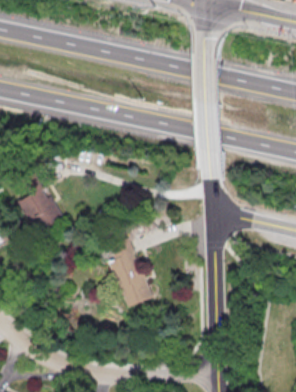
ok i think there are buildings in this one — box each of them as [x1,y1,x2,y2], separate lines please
[18,179,64,226]
[112,236,156,306]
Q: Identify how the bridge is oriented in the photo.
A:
from top to bottom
